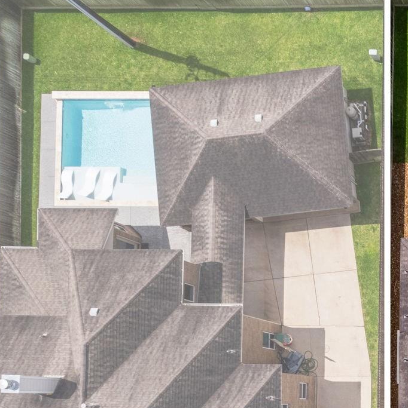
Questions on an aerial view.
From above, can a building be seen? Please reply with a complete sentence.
Yes, a building appears in the view.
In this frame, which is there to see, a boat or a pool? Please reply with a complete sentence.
The image shows a pool.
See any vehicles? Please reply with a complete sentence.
No, I can't see a single vehicle in this photo.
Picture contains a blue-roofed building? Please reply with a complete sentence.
No, I find no blue-roofed building anywhere in the image.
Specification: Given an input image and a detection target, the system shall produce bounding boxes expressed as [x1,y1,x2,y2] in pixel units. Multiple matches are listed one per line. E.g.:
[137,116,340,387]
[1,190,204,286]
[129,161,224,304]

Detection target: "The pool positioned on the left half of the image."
[53,92,159,207]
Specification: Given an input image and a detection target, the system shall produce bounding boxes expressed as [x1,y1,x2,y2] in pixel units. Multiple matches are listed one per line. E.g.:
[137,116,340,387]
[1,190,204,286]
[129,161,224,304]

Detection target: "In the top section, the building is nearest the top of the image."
[148,65,370,236]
